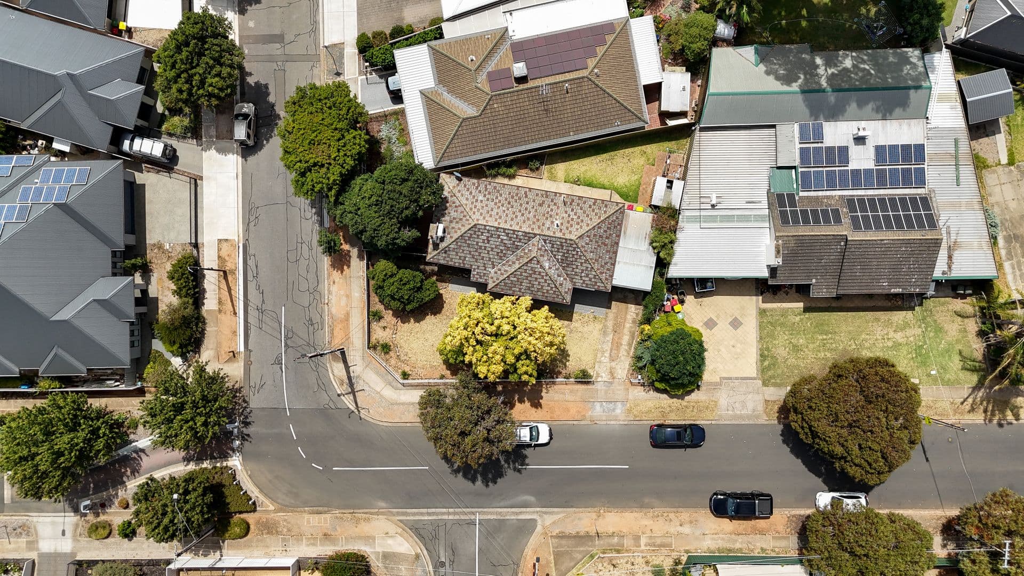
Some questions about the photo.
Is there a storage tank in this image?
No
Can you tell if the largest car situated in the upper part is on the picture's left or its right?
left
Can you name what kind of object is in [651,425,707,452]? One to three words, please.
car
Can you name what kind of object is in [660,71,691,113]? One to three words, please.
shed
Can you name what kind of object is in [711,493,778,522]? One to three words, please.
truck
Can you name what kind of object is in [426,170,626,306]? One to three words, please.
house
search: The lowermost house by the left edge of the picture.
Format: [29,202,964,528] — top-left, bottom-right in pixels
[0,153,146,376]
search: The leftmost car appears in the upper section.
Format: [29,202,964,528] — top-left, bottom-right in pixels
[230,98,260,147]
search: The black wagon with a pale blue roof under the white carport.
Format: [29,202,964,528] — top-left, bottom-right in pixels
[385,74,405,101]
